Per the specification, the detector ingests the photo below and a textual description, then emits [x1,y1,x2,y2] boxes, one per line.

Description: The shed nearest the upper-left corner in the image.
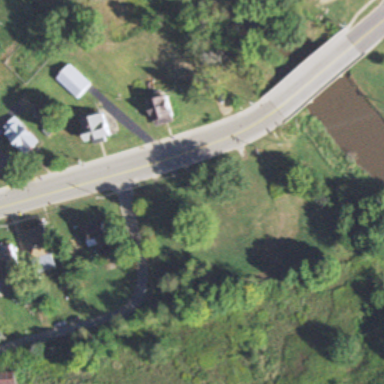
[58,63,94,98]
